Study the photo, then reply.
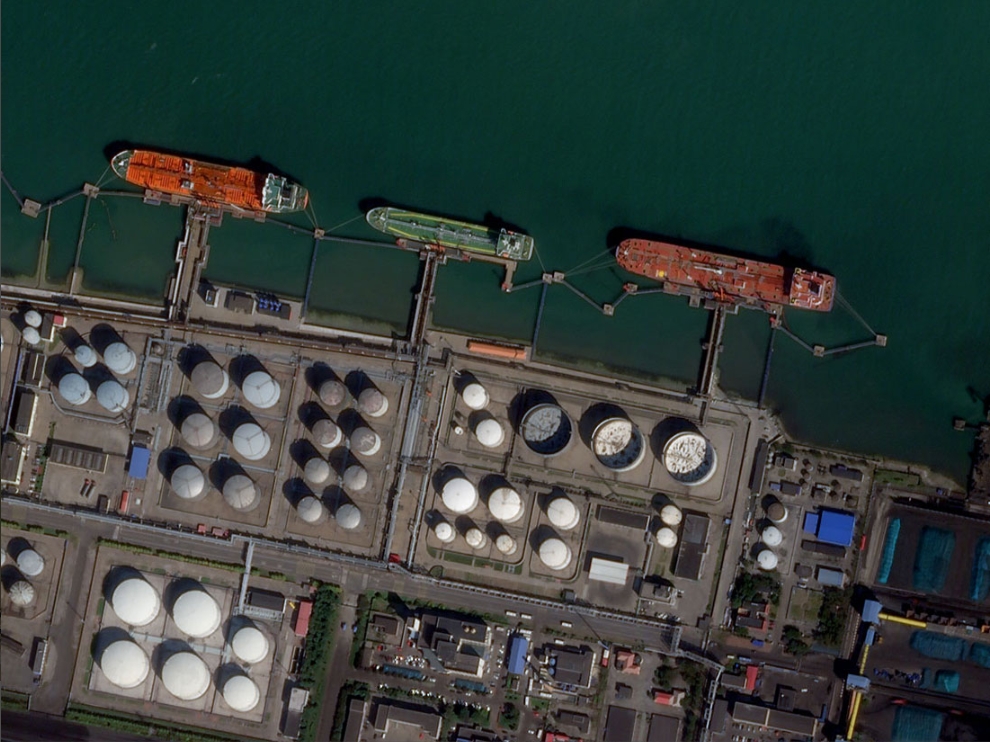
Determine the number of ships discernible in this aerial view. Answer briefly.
3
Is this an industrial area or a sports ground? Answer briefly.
industrial area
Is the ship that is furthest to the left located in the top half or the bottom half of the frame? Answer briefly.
top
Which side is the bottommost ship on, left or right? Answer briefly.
right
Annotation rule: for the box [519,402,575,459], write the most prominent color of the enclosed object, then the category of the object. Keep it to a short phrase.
gray storage tank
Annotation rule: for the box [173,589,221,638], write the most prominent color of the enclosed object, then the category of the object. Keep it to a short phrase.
white storage tank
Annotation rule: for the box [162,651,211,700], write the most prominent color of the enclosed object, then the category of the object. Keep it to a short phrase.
white storage tank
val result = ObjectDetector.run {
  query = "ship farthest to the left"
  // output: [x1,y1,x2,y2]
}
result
[111,149,309,215]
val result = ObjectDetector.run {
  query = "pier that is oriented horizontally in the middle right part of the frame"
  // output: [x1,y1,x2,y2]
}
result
[663,282,782,314]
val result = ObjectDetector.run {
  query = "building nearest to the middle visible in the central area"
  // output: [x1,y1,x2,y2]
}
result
[470,342,526,359]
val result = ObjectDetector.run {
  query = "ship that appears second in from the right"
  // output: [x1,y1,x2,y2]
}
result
[366,207,535,261]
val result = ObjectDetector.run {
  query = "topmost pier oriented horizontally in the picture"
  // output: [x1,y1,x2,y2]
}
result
[144,189,265,226]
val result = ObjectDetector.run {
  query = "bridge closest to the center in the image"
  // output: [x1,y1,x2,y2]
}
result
[413,253,438,347]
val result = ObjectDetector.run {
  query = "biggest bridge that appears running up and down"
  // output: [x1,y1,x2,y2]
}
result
[164,209,210,319]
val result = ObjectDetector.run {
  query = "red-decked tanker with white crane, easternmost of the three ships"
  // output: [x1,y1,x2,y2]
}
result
[615,238,835,313]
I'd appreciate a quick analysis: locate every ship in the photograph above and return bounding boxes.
[615,238,835,313]
[366,207,535,261]
[111,149,309,215]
